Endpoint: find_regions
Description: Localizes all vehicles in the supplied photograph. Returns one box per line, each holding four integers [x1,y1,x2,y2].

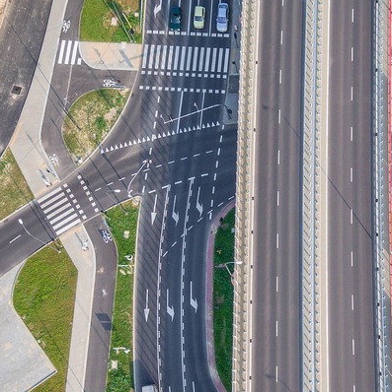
[192,3,204,28]
[215,1,229,31]
[141,386,157,392]
[167,1,181,30]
